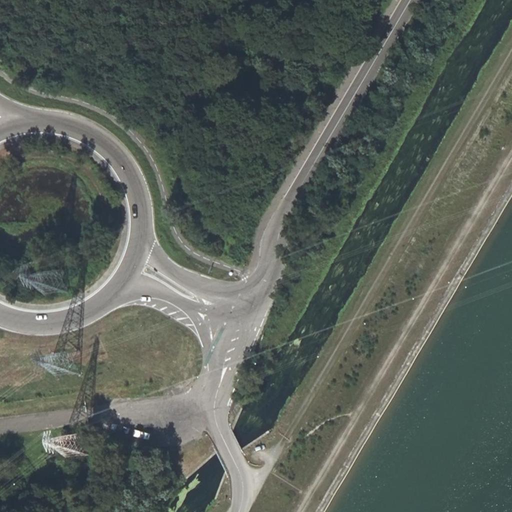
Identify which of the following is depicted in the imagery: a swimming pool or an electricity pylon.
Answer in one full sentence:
There is an electricity pylon in the scene.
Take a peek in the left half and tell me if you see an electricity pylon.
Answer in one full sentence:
Yes, an electricity pylon appears in the left half.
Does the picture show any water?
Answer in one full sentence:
Yes, there is water in the image.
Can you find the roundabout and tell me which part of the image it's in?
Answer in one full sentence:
The roundabout sits in the left section of the image.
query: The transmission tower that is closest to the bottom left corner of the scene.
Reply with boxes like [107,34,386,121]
[42,432,84,461]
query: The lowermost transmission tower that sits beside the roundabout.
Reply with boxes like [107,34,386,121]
[34,348,82,380]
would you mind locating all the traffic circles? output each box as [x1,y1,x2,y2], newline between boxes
[0,108,154,336]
